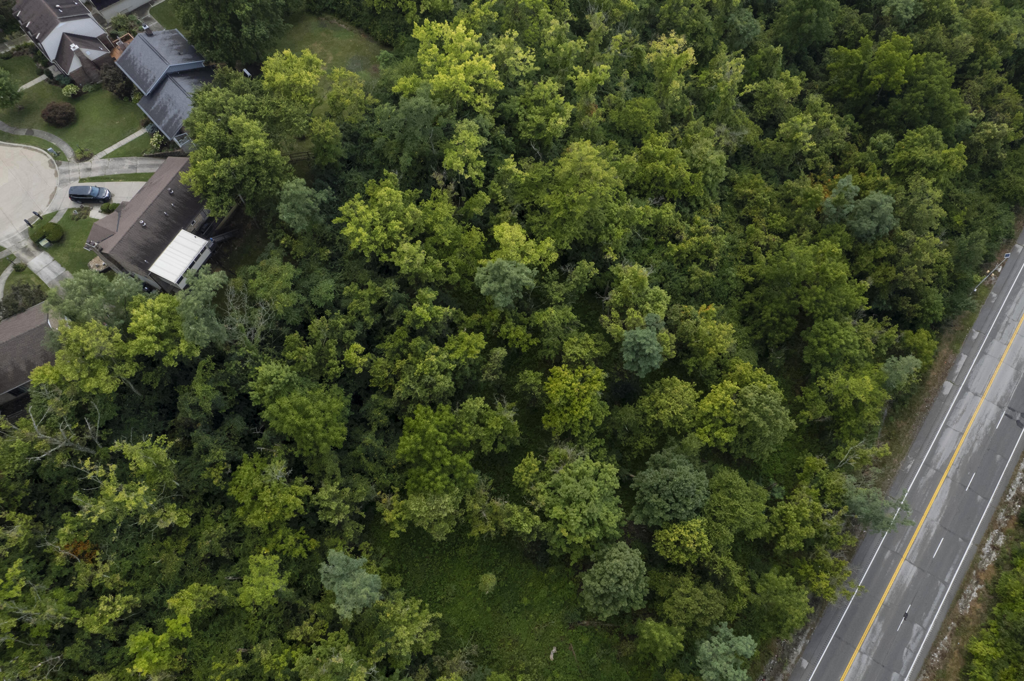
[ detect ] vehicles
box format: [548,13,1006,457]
[64,182,112,203]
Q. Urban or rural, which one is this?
rural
